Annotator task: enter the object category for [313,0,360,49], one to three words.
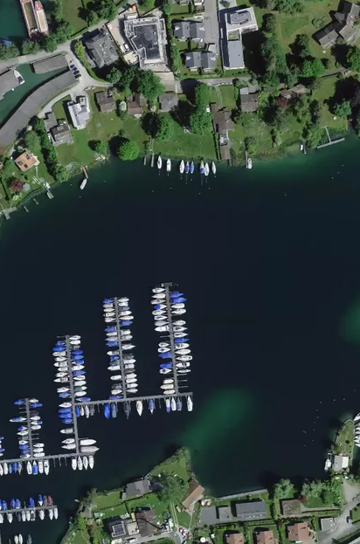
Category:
house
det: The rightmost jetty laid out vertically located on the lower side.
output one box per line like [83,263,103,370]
[158,284,182,394]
